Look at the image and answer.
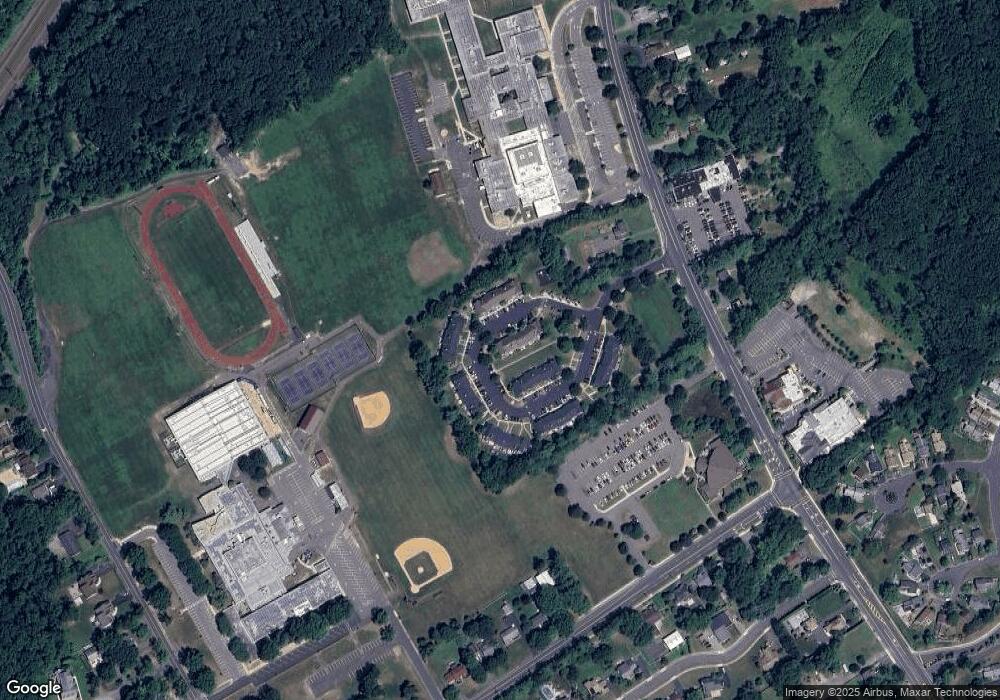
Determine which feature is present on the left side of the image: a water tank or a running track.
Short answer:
running track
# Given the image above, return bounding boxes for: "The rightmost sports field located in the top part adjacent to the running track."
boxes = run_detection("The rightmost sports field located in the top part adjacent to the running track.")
[244,61,471,337]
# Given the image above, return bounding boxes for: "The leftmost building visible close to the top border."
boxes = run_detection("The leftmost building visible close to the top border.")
[407,0,580,220]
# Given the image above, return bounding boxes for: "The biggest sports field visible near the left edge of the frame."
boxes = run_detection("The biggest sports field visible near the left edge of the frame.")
[30,202,219,528]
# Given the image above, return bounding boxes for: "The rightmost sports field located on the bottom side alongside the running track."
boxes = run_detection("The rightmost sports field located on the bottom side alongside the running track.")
[326,341,635,616]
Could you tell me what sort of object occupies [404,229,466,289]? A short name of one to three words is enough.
baseball field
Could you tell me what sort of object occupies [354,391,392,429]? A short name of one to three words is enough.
baseball field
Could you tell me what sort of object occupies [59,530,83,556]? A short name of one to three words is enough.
house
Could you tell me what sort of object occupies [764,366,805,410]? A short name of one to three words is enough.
building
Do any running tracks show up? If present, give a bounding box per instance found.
[140,180,287,366]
